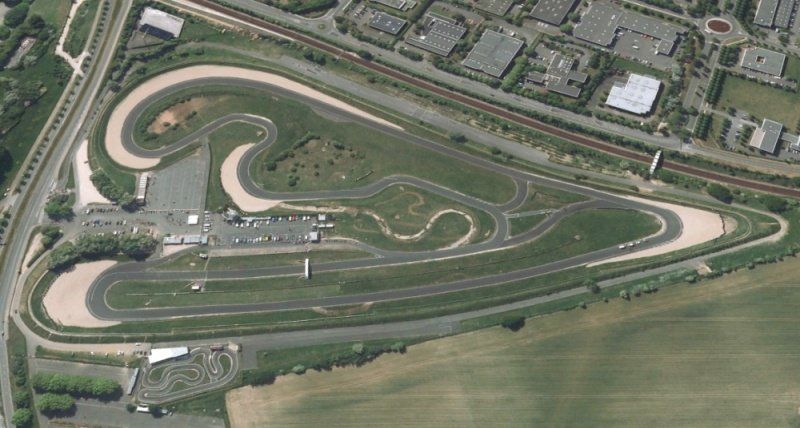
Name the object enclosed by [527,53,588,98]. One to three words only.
building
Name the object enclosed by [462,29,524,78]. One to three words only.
building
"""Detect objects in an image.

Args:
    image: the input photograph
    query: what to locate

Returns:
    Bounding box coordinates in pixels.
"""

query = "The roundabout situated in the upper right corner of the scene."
[695,11,746,45]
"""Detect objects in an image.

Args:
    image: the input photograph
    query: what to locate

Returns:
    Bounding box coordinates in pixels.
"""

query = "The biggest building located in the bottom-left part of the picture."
[148,347,188,364]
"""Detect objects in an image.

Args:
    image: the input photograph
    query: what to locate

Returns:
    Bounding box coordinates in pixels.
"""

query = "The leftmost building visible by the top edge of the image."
[138,6,184,40]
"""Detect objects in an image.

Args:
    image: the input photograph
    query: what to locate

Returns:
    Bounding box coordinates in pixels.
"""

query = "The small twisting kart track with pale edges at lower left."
[138,347,239,402]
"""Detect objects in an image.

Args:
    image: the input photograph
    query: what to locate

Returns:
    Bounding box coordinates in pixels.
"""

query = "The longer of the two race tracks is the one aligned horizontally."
[43,65,737,326]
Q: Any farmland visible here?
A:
Yes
